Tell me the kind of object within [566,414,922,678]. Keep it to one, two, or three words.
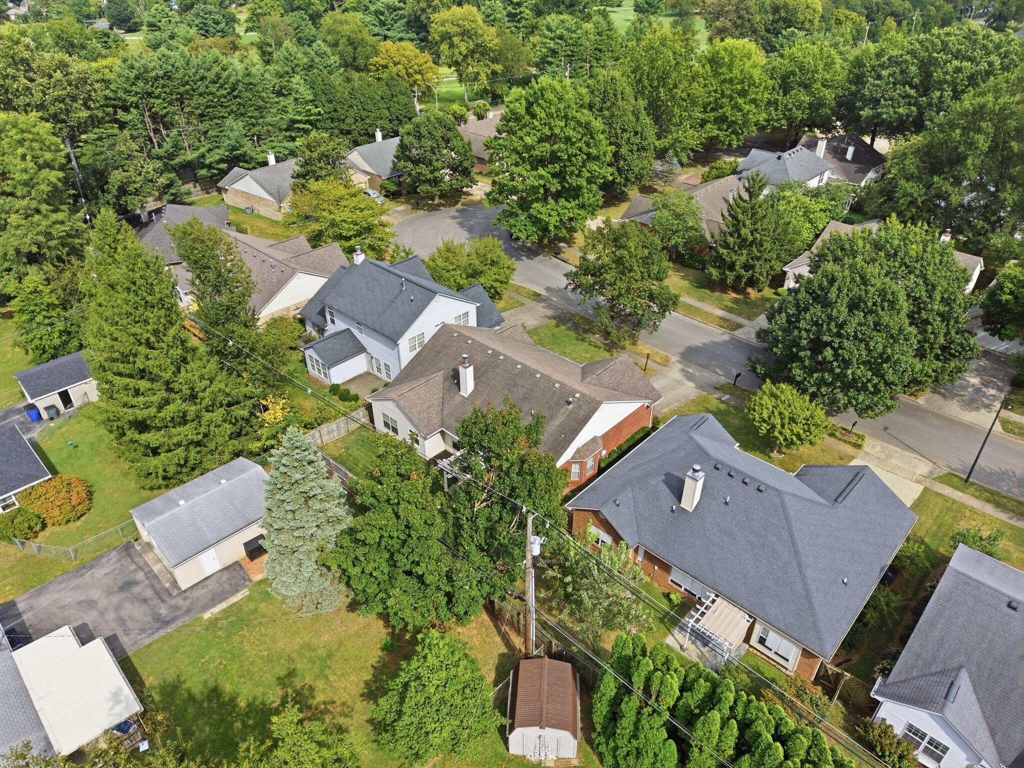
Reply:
house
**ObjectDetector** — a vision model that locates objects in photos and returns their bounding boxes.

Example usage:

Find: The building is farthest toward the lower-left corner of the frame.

[0,555,161,768]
